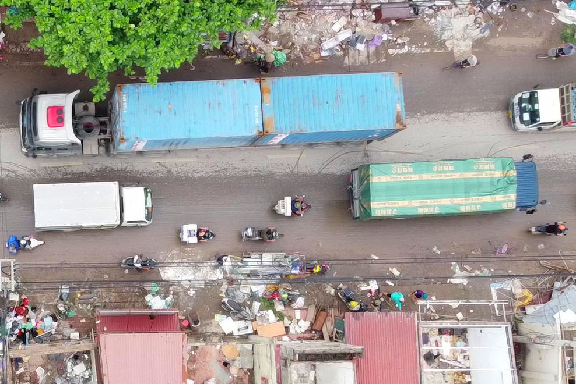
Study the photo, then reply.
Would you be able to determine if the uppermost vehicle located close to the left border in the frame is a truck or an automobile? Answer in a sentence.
The uppermost vehicle located close to the left border can be classified as a truck.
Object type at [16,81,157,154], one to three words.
truck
